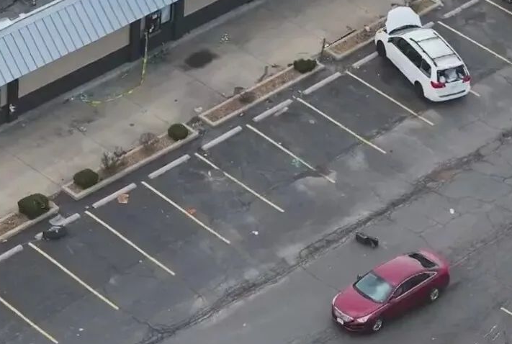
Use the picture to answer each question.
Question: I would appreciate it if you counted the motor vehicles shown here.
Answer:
2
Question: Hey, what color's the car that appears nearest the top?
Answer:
white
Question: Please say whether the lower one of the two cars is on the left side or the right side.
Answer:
right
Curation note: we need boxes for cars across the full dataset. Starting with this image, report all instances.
[332,245,453,331]
[376,2,478,98]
